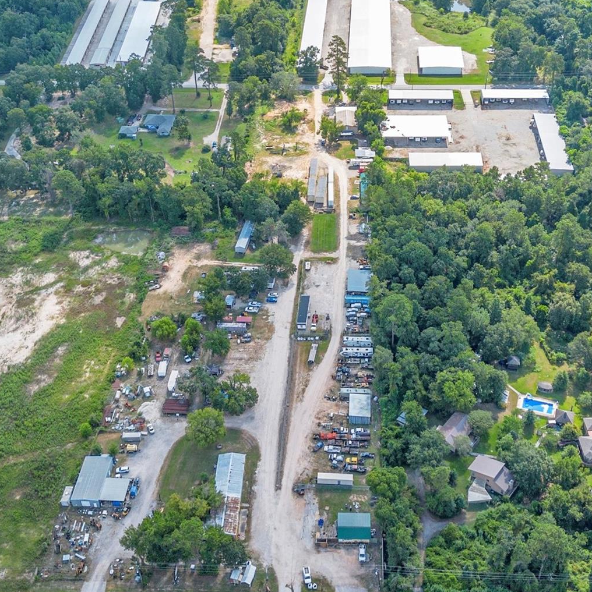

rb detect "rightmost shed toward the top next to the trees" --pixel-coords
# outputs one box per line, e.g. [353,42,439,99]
[533,113,572,177]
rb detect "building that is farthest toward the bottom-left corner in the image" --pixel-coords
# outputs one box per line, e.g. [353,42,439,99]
[70,453,132,507]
